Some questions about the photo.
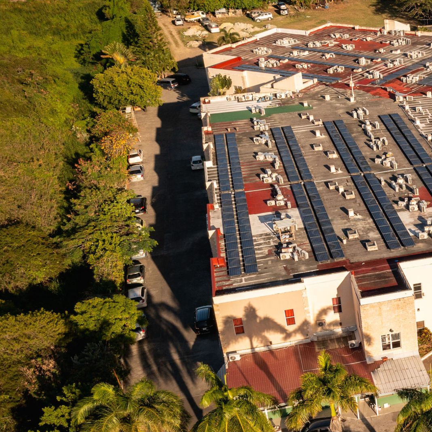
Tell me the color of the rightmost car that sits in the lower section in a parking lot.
black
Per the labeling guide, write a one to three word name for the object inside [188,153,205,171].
car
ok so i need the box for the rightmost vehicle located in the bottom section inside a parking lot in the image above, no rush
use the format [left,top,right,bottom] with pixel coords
[189,303,216,339]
